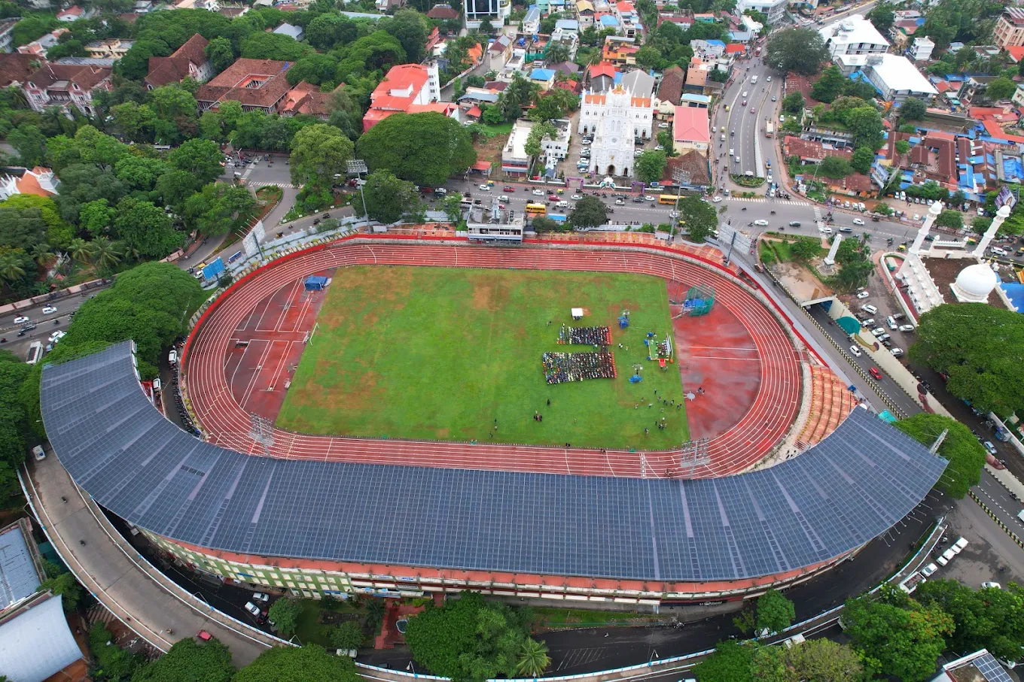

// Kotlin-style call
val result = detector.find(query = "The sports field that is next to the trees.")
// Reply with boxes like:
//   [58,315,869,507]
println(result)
[272,265,688,451]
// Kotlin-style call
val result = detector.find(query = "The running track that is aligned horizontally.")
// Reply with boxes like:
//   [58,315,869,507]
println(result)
[183,242,804,477]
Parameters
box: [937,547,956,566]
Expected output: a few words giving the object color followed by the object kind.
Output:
white vehicle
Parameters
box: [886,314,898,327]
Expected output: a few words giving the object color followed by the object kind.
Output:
white vehicle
